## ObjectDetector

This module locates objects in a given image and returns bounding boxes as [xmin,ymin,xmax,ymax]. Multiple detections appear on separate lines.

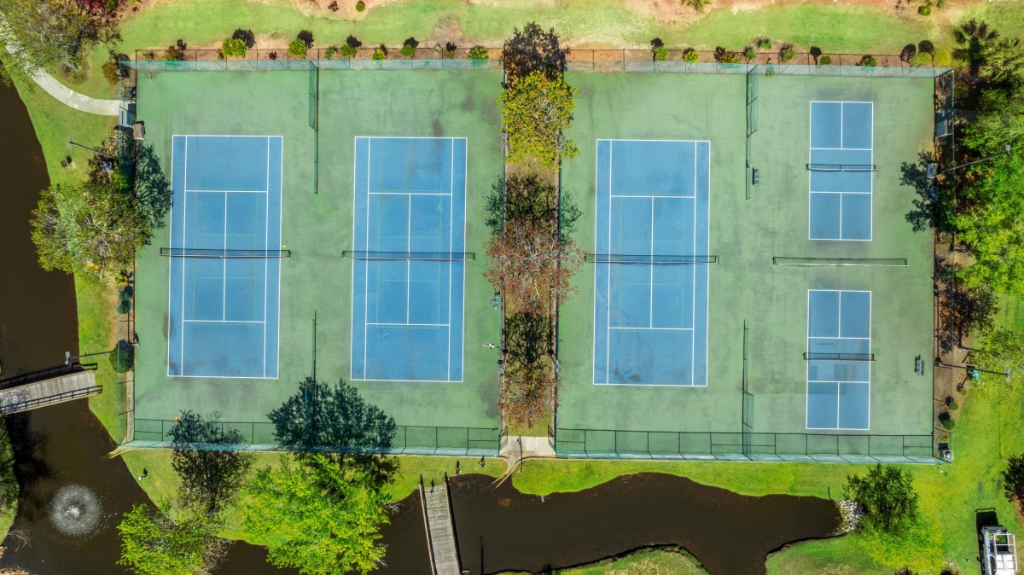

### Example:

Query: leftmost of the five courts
[168,135,283,379]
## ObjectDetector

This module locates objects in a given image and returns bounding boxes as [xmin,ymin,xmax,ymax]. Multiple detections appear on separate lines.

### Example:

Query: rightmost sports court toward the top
[809,101,873,240]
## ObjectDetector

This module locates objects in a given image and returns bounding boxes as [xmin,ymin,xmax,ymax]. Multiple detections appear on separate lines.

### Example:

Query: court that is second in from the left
[351,136,468,382]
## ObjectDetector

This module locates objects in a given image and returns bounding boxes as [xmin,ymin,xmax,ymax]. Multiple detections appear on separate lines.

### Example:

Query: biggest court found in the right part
[593,139,710,387]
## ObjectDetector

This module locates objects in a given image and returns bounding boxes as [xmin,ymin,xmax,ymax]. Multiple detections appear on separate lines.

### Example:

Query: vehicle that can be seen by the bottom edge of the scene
[984,523,1019,575]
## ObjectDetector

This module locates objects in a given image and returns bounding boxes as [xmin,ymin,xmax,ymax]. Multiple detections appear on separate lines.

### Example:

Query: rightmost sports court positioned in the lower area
[794,290,879,430]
